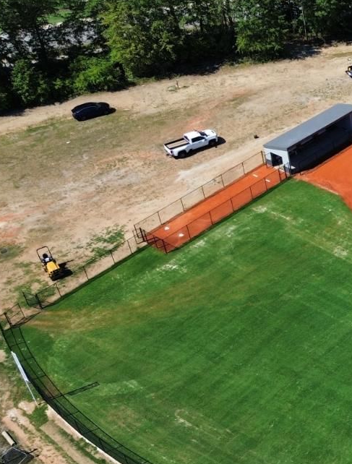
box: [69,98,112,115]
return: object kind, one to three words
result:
car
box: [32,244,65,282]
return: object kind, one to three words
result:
work vehicle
